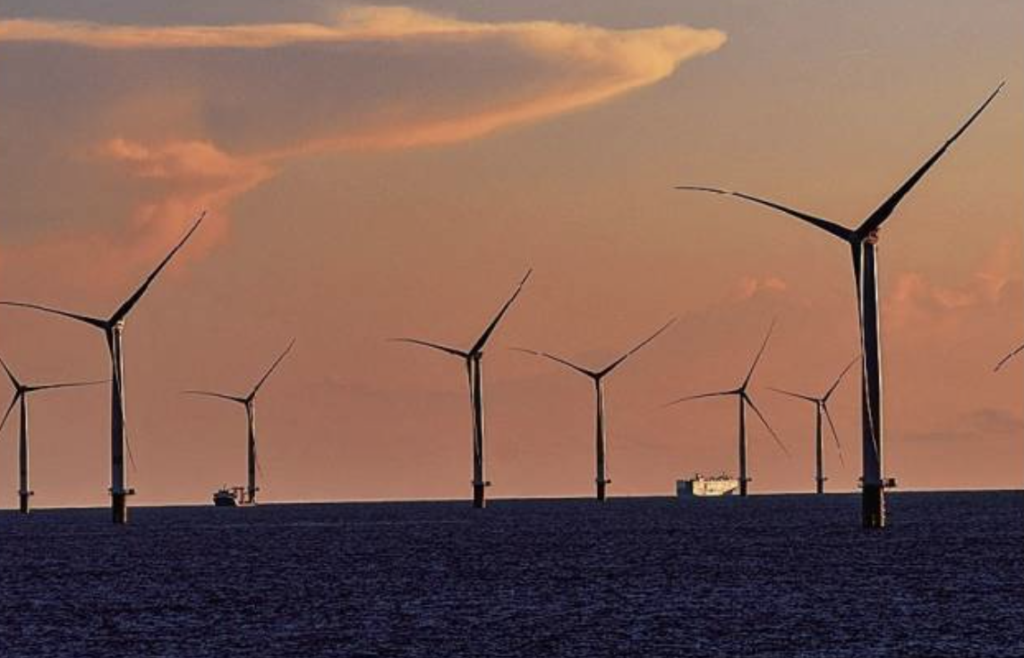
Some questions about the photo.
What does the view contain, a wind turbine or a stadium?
wind turbine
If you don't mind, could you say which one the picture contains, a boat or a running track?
boat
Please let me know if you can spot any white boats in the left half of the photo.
No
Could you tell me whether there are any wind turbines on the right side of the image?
Yes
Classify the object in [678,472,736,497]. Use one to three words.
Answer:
ship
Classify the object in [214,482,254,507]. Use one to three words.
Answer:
boat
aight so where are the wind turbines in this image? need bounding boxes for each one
[188,340,295,506]
[680,81,1003,527]
[510,319,675,501]
[664,320,789,496]
[0,212,205,523]
[770,360,859,494]
[0,354,106,512]
[388,271,530,507]
[996,347,1024,370]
